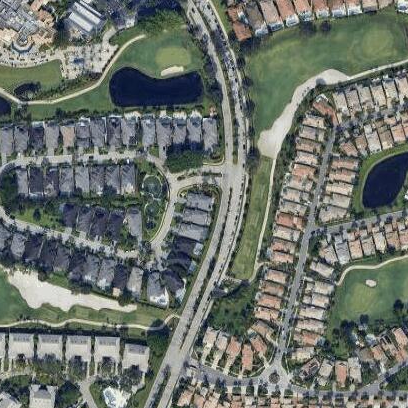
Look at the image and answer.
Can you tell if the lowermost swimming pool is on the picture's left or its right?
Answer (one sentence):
The lowermost swimming pool sits on the left side.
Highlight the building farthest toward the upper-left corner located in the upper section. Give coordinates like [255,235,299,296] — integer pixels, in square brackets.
[0,0,59,50]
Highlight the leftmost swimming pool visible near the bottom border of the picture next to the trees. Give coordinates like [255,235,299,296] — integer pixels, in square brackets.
[103,387,131,408]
